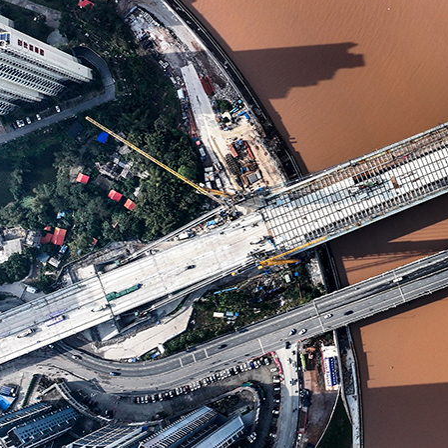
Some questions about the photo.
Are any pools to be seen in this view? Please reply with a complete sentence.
No, there is no pool in the image.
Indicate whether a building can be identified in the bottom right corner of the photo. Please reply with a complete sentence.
Yes, there is a building in the bottom right corner of the photo.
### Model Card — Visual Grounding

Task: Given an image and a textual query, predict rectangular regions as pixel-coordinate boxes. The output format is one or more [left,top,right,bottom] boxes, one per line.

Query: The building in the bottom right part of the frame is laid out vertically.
[323,346,342,389]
